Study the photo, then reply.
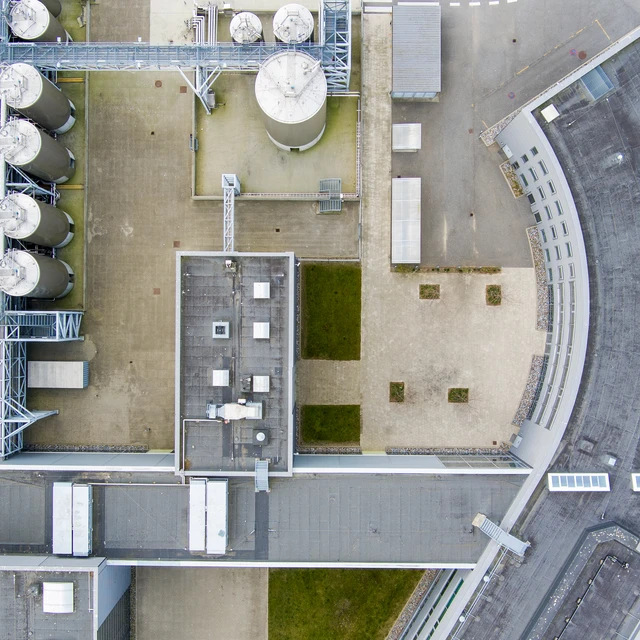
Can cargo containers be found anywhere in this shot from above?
Yes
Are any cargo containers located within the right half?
No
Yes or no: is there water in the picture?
No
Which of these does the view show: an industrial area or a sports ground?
industrial area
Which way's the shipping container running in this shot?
from side to side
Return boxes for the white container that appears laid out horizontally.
[28,360,91,388]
